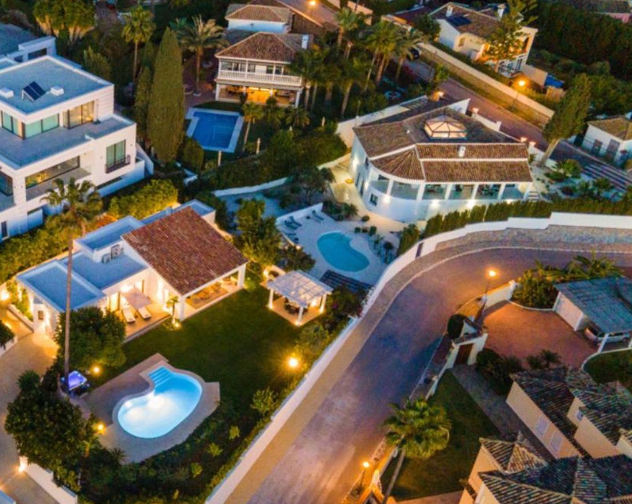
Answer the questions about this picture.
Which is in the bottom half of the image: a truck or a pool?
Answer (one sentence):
There is a pool in the bottom half of the image.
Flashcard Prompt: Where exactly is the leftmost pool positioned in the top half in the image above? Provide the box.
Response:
[193,112,237,148]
